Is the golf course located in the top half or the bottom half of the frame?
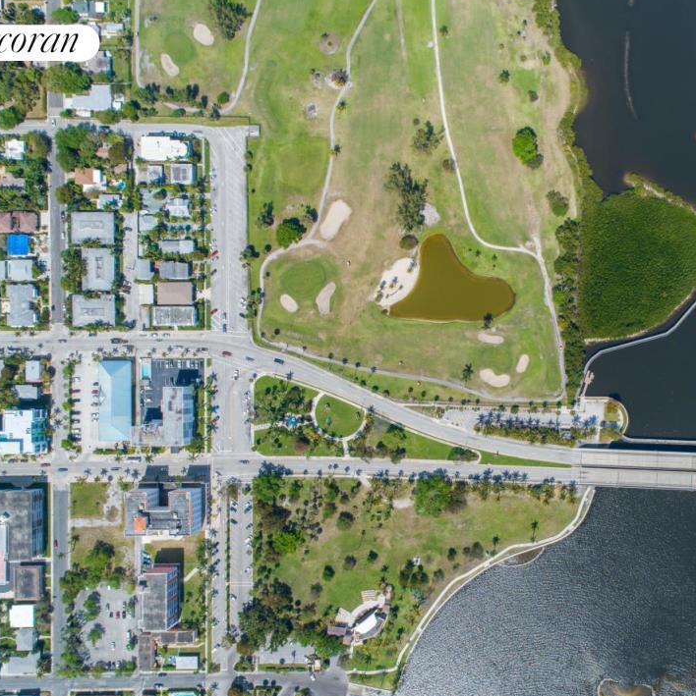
top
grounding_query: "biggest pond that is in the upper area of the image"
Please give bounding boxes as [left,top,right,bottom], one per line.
[389,234,515,321]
